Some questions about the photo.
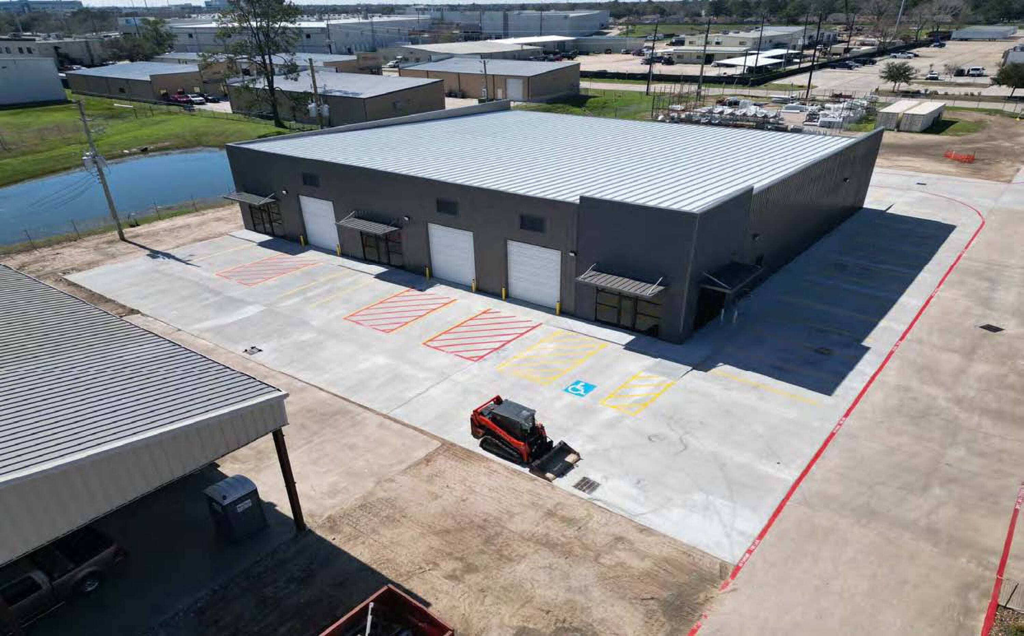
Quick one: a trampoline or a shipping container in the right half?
shipping container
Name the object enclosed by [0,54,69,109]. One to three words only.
building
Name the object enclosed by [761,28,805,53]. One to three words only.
building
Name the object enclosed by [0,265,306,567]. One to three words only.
shed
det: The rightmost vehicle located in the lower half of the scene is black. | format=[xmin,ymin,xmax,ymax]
[473,396,581,481]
